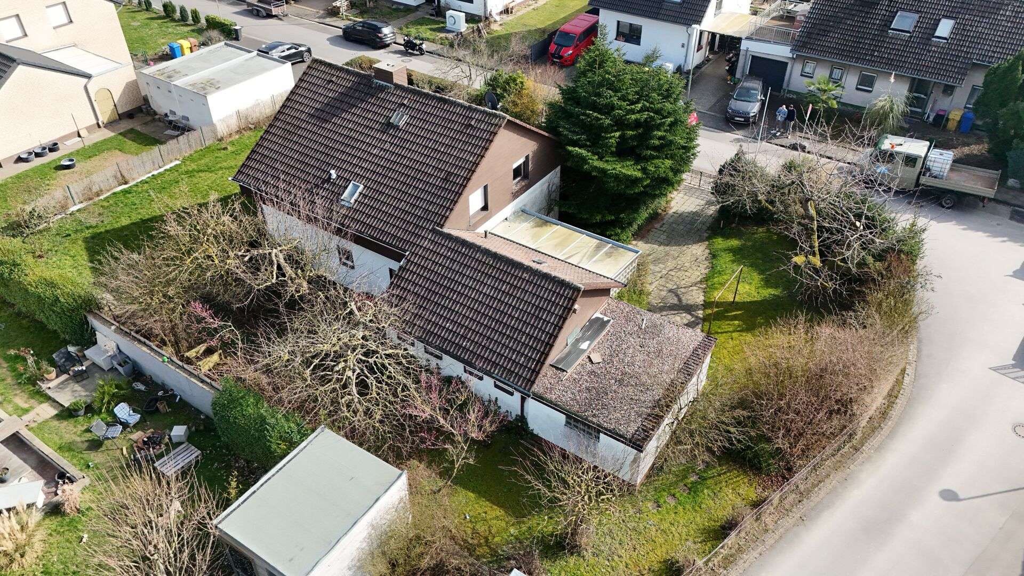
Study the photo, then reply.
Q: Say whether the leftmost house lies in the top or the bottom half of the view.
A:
top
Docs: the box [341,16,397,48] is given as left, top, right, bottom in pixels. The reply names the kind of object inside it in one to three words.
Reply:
car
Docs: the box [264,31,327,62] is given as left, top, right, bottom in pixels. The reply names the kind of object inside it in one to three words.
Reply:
car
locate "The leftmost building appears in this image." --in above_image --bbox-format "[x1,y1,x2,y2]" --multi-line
[0,0,148,164]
